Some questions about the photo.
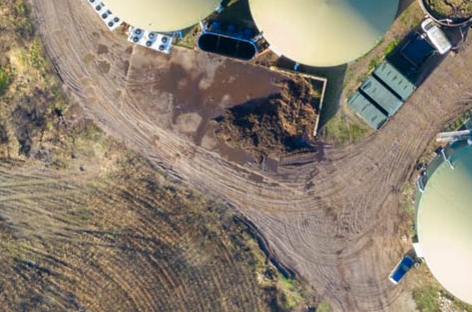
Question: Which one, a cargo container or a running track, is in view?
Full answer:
Looking from above, you can make out a cargo container.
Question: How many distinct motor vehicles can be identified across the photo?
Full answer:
There are 2 motor vehicles in the image.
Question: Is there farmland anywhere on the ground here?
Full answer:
Yes, farmland can be seen from above here.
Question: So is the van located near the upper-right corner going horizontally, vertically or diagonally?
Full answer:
From this overhead view, the van located near the upper-right corner appears to run diagonally.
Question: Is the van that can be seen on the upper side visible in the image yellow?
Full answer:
No, the van that can be seen on the upper side is white.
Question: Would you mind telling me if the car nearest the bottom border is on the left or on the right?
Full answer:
It is on the right.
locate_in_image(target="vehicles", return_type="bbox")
[417,18,453,56]
[387,252,414,283]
